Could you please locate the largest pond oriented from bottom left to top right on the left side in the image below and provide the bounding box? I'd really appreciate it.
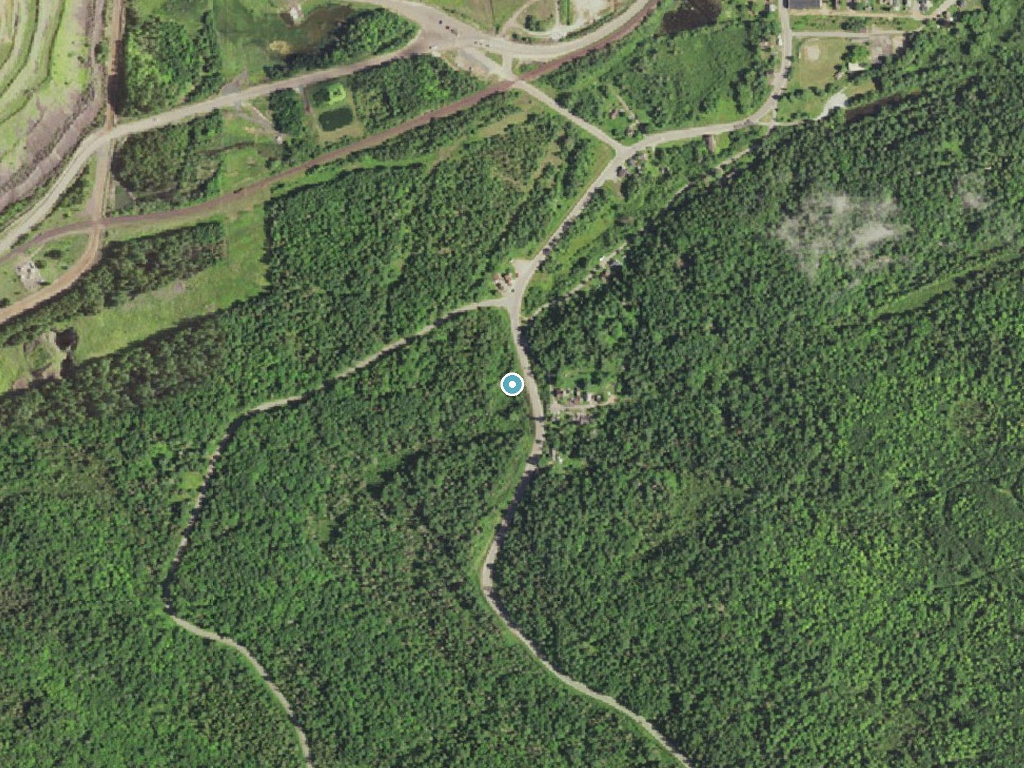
[290,5,363,56]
